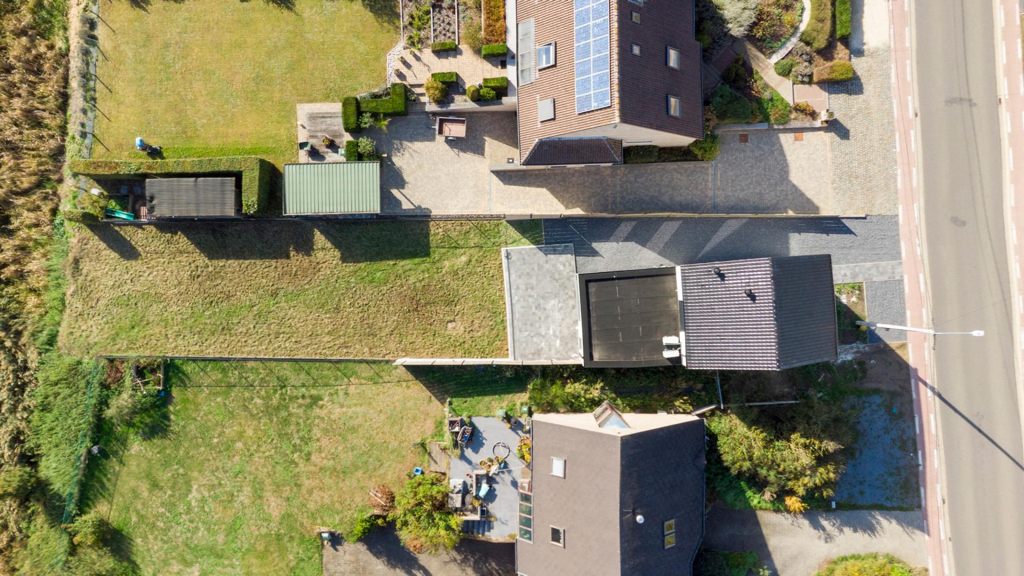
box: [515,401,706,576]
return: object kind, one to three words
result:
house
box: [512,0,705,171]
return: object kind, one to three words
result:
house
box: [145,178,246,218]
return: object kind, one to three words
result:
shed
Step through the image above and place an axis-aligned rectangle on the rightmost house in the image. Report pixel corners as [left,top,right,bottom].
[666,255,838,371]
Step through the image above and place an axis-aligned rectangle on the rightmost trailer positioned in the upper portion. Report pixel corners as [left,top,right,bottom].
[430,112,467,142]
